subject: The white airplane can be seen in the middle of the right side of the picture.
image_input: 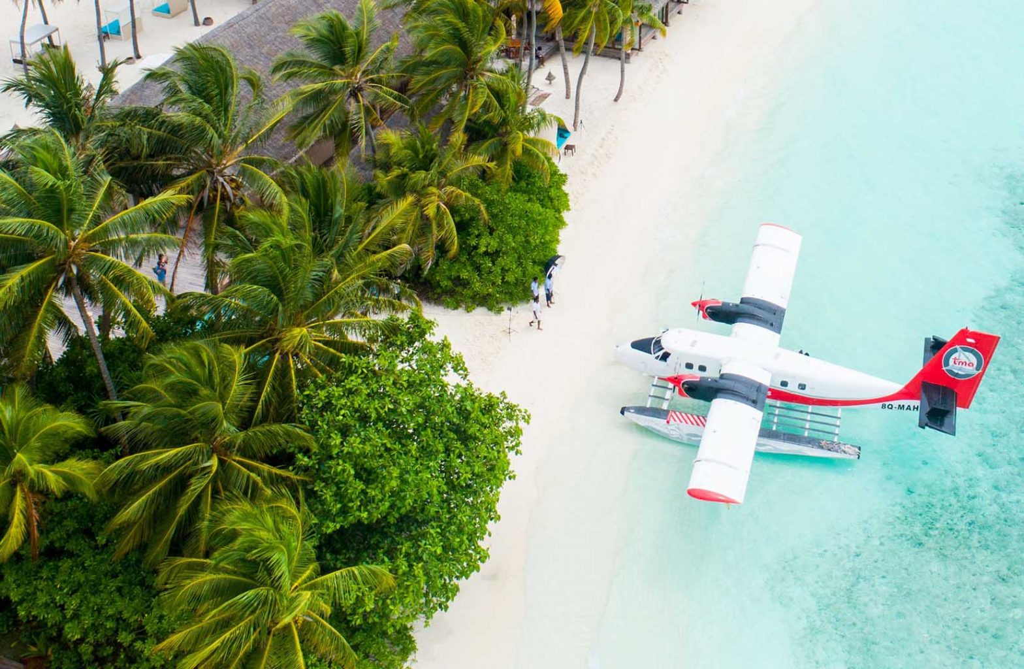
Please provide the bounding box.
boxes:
[614,224,999,507]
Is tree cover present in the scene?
Yes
